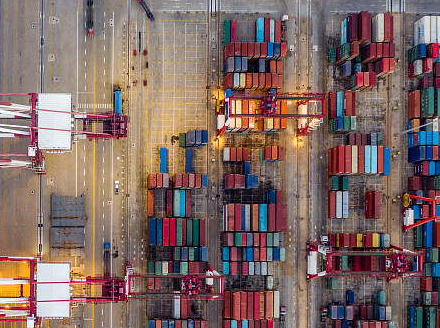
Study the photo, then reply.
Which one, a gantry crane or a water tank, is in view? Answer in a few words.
gantry crane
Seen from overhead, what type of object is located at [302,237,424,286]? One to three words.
container crane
